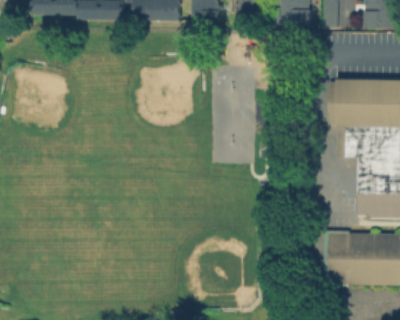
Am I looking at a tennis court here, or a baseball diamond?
baseball diamond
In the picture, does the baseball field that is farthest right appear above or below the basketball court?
below it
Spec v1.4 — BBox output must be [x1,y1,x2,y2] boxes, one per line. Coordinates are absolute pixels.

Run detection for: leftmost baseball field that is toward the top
[0,57,83,142]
